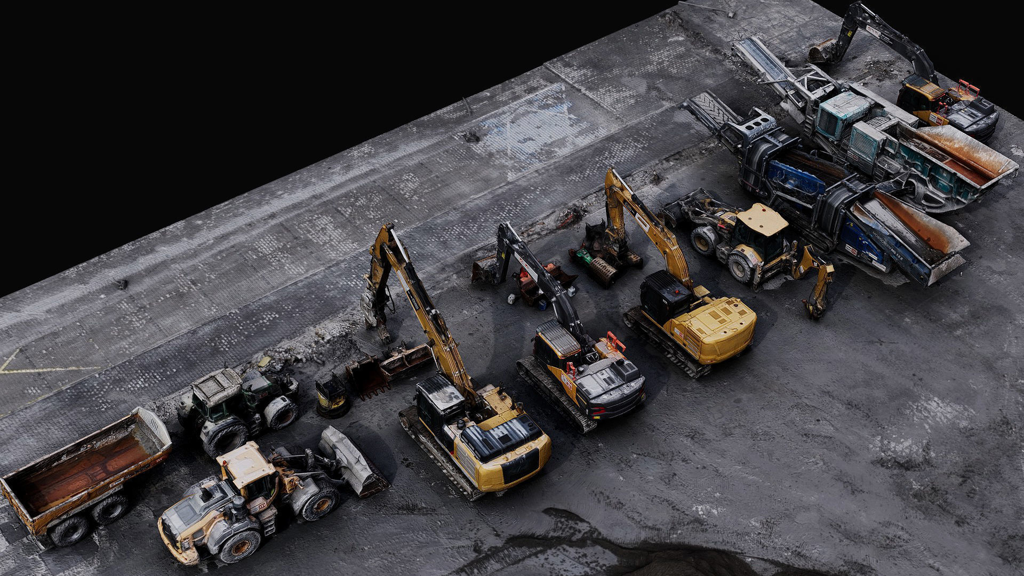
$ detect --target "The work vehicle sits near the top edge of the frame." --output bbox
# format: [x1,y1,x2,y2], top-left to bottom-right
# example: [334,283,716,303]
[831,1,998,139]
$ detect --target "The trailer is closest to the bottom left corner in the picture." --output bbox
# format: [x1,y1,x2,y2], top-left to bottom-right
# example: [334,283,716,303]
[2,394,204,549]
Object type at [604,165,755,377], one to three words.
work vehicle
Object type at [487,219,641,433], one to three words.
work vehicle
